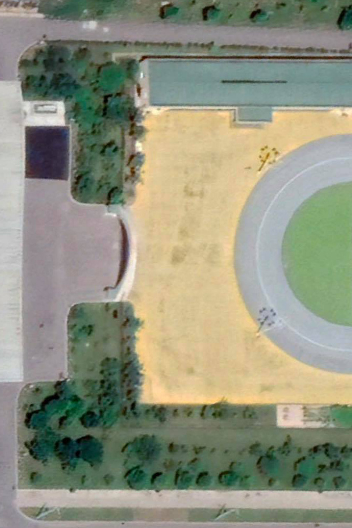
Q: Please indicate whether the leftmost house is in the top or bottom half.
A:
top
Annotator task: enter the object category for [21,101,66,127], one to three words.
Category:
house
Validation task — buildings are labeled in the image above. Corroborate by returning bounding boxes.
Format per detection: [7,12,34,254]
[21,101,66,127]
[133,58,352,125]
